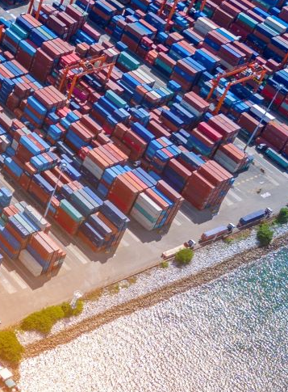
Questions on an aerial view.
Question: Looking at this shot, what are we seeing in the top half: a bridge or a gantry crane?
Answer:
gantry crane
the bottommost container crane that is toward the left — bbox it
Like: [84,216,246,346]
[56,52,116,101]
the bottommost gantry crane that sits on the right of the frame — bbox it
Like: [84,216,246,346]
[198,61,266,115]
